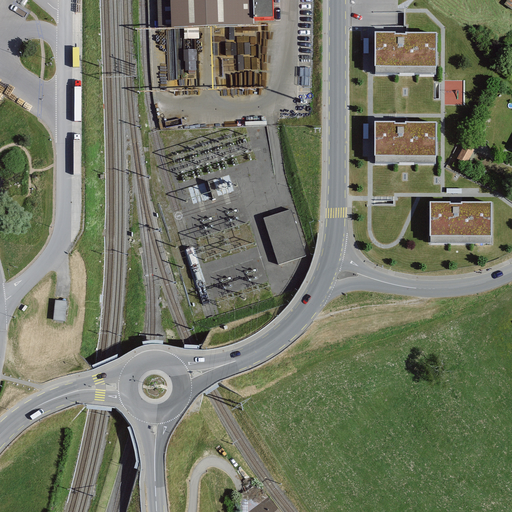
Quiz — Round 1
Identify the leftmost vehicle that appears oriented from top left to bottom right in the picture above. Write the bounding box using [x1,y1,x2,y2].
[10,4,28,18]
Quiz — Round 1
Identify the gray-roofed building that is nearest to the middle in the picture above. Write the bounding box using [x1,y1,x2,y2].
[264,210,306,264]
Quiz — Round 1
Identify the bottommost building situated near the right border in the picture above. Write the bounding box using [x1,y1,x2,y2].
[430,201,494,246]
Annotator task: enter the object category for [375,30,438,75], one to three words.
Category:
building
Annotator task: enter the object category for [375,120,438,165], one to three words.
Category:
building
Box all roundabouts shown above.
[78,348,214,434]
